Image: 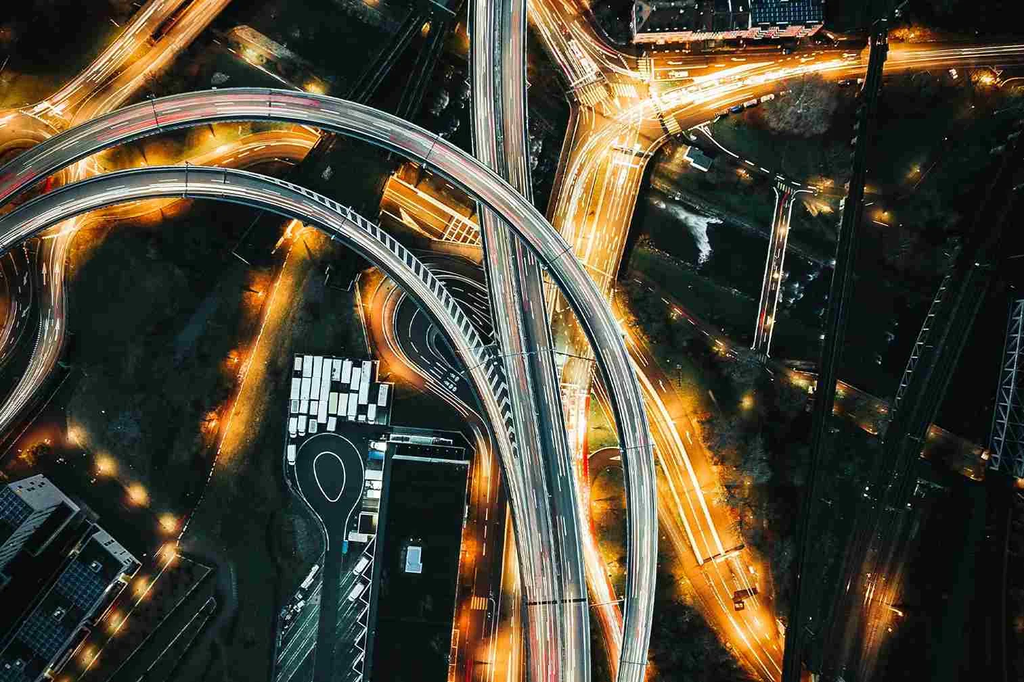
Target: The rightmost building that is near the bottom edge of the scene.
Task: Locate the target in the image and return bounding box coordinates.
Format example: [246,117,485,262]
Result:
[358,455,470,682]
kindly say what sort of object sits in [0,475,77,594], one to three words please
building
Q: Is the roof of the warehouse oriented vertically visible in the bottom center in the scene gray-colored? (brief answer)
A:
No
